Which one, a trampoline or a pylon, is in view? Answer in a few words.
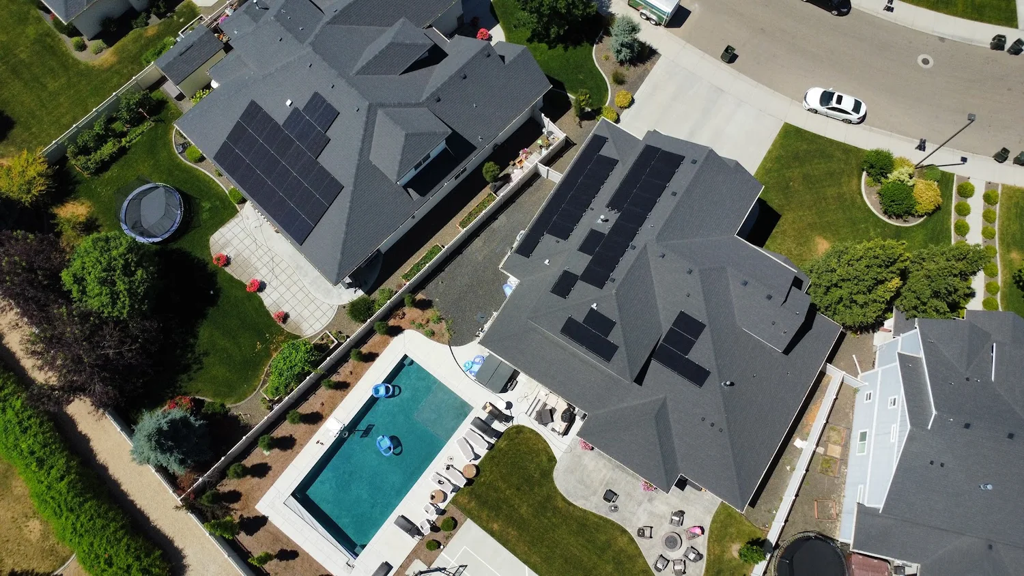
trampoline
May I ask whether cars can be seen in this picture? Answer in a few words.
Yes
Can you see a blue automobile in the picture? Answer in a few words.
No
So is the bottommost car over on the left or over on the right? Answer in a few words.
right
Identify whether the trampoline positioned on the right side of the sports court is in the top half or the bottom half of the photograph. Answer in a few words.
bottom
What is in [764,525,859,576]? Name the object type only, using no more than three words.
trampoline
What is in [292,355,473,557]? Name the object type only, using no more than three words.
swimming pool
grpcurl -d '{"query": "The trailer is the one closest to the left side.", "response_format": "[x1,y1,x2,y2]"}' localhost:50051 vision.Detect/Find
[621,0,678,26]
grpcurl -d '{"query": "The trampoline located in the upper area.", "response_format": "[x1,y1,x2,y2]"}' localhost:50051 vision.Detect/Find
[108,176,187,244]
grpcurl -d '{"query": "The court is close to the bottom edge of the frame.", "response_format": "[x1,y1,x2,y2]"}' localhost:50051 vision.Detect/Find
[426,519,543,576]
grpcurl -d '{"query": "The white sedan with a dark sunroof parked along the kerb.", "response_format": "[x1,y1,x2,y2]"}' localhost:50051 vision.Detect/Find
[801,86,869,124]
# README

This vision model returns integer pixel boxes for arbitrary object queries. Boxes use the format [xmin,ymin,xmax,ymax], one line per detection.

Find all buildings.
[478,117,843,514]
[46,0,153,41]
[838,305,1024,576]
[175,0,551,289]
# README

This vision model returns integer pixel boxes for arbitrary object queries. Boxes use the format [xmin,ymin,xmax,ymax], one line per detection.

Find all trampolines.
[764,525,859,576]
[108,176,187,244]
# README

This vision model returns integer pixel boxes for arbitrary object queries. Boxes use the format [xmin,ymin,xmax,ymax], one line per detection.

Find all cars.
[801,86,869,124]
[798,0,853,16]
